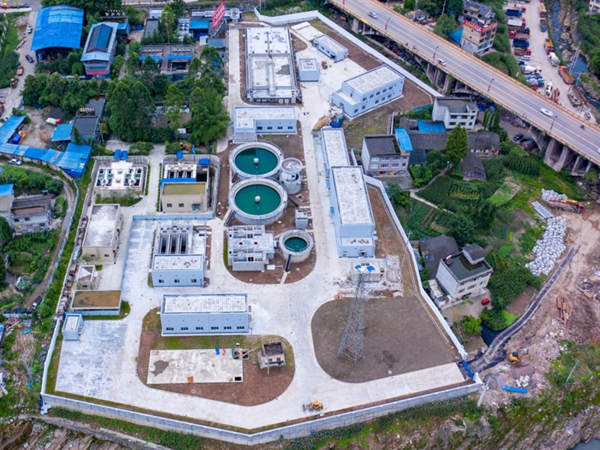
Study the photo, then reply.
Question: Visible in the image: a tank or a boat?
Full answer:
The image shows a tank.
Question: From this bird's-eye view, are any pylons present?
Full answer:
Yes, there's a pylon down there.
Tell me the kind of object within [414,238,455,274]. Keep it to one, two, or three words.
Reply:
shed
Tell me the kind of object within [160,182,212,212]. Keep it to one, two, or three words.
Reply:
building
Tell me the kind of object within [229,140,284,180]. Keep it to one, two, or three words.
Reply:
storage tank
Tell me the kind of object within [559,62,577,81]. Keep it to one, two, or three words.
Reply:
vehicle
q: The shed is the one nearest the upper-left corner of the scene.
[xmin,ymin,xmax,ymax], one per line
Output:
[26,5,90,66]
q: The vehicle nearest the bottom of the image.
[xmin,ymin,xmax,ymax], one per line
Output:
[301,397,323,411]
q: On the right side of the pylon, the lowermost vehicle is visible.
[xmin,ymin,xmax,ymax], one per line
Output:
[507,350,529,363]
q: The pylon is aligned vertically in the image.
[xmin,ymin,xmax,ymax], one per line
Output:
[336,271,369,369]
